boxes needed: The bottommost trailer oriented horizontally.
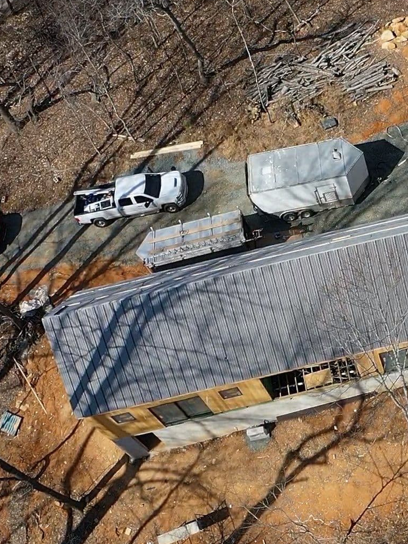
[142,204,276,273]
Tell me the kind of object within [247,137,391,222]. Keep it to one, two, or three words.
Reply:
trailer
